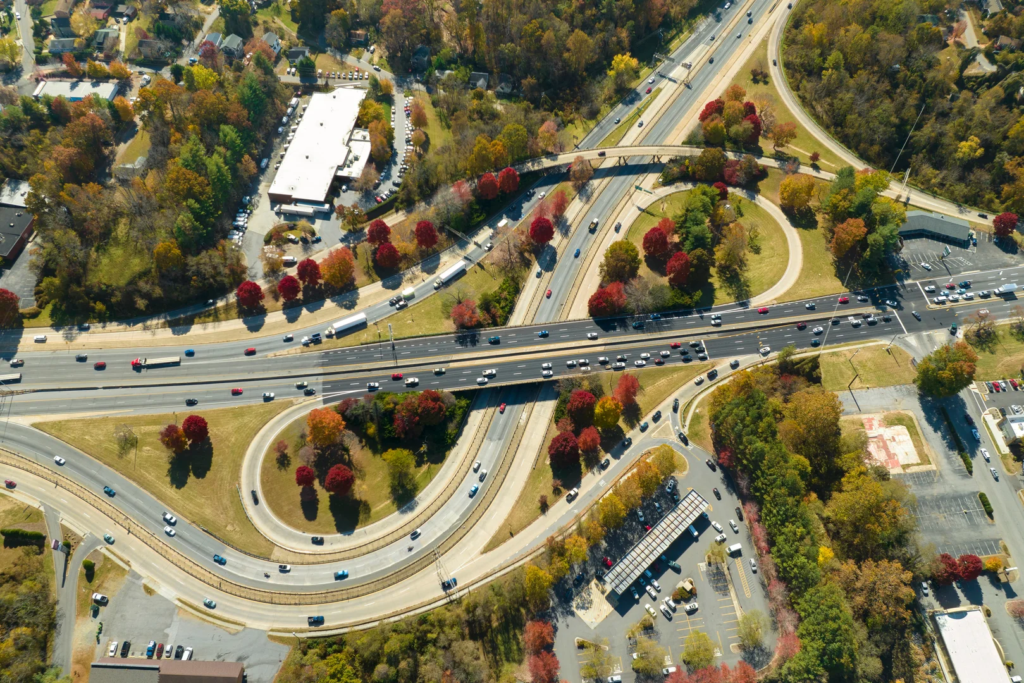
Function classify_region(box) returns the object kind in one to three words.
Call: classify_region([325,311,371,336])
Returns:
truck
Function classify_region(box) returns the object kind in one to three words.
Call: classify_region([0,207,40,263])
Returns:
building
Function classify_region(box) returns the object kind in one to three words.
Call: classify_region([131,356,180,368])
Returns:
vehicle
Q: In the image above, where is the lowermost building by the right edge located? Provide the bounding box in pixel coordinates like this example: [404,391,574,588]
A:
[927,605,1010,683]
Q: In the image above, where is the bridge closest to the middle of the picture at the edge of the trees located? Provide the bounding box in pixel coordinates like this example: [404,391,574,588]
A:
[430,314,623,393]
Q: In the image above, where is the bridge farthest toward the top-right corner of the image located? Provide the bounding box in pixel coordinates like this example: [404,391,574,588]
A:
[472,143,779,186]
